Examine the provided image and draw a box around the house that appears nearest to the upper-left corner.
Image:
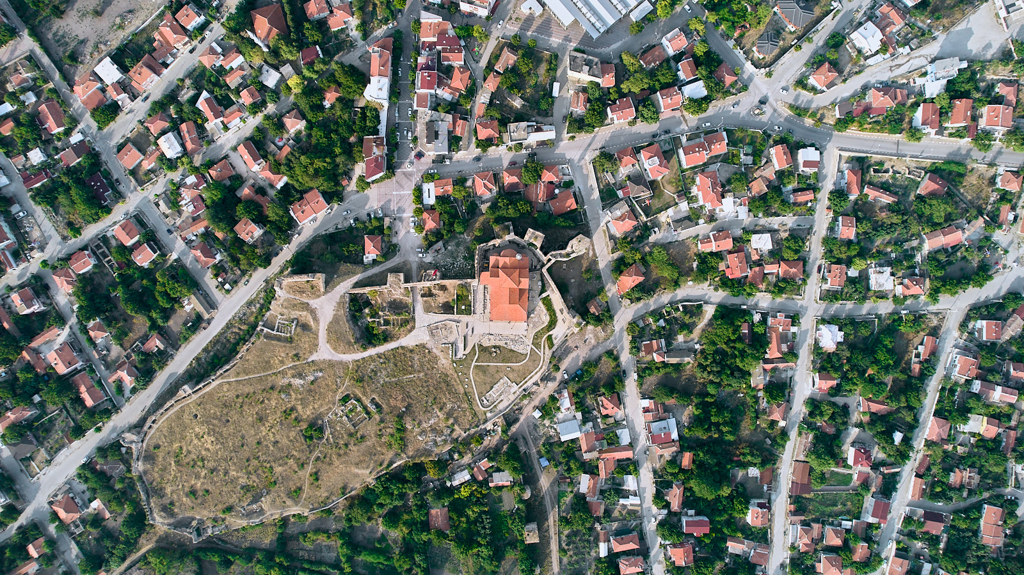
[9,59,30,87]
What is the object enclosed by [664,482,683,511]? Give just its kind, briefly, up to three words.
house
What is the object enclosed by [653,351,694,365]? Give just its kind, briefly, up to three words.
shed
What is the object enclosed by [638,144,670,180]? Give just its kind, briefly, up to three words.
building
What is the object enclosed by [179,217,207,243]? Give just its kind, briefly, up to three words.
house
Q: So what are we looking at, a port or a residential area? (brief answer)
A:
residential area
